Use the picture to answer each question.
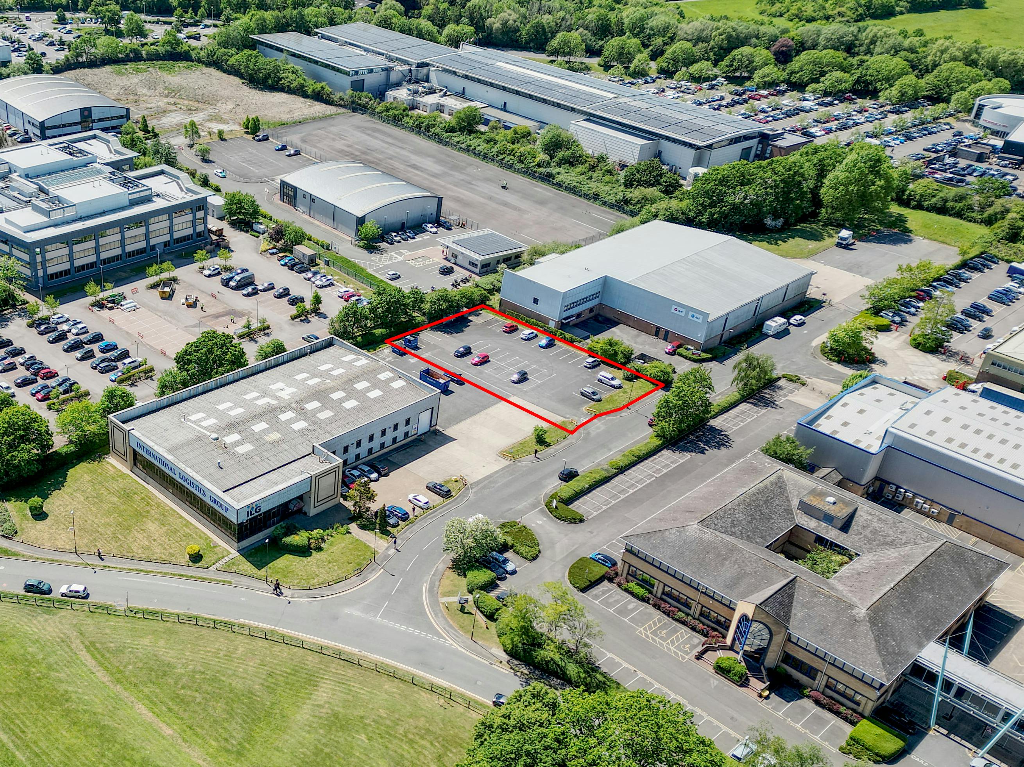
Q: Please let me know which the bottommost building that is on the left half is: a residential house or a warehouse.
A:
warehouse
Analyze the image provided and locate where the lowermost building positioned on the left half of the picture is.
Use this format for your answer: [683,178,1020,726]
[105,335,440,550]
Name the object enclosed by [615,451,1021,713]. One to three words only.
building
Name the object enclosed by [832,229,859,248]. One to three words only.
vehicle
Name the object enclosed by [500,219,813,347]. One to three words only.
warehouse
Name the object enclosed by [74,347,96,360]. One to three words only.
vehicle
